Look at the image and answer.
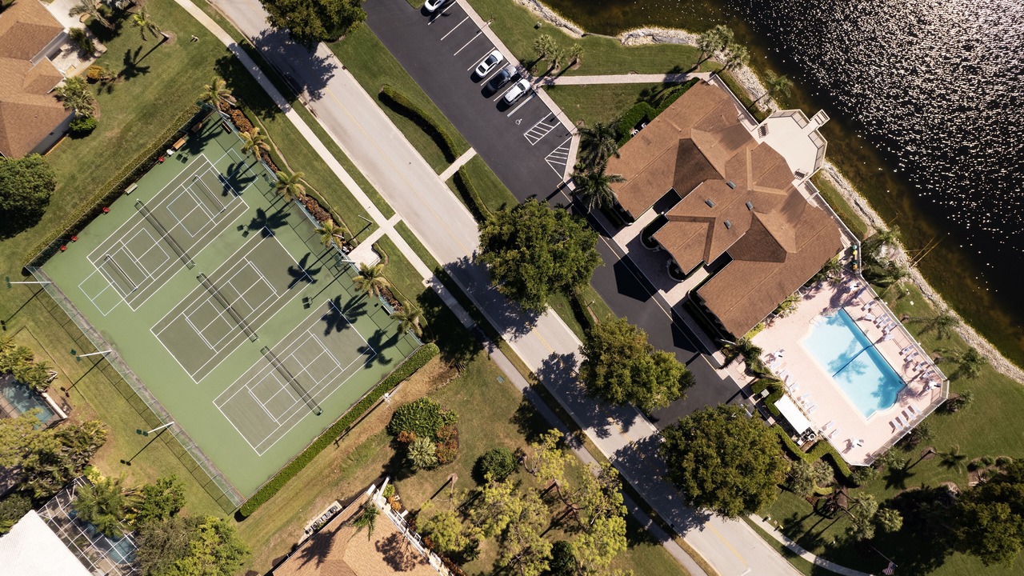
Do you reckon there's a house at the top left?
Yes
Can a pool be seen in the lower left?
Yes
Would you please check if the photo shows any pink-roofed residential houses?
No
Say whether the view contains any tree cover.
Yes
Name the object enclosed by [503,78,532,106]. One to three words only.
car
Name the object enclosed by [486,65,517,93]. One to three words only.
car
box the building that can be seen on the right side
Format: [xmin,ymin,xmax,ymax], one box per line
[600,80,843,339]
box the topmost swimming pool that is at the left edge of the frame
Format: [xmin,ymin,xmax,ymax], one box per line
[0,366,67,435]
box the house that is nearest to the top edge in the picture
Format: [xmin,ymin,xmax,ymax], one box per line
[0,0,80,172]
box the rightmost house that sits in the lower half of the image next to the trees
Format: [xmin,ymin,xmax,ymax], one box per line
[275,491,439,576]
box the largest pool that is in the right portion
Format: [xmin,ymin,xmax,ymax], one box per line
[751,244,947,463]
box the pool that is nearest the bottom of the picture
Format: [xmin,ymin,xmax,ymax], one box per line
[44,478,163,576]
